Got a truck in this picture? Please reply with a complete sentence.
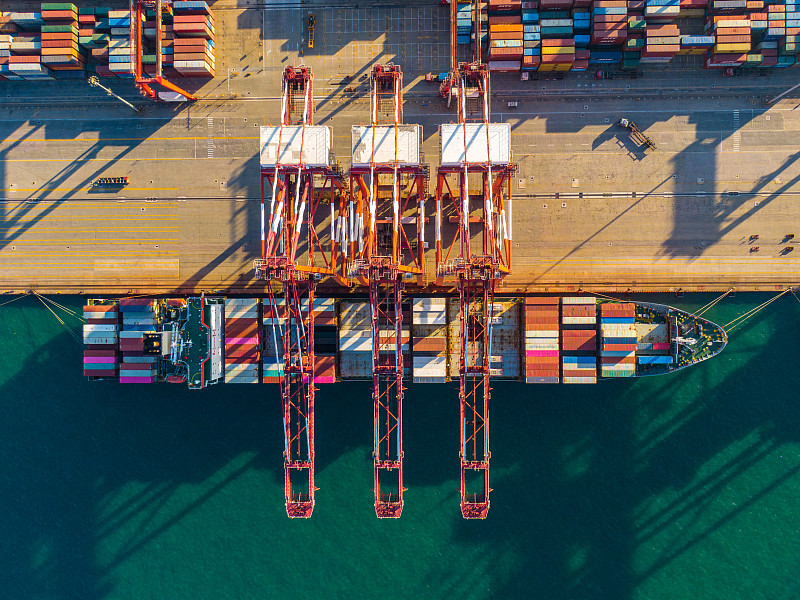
Yes, a truck is visible in the scene.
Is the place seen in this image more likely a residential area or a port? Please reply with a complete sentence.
The area seen from above is a port.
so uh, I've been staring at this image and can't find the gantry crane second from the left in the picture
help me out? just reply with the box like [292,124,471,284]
[253,65,359,516]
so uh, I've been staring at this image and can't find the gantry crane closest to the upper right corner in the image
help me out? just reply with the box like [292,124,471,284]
[432,0,488,102]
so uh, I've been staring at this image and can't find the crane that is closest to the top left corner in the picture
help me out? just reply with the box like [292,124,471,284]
[129,0,204,106]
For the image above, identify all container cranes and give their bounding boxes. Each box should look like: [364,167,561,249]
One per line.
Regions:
[129,0,204,106]
[253,65,359,516]
[432,0,488,102]
[423,62,522,517]
[346,63,434,517]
